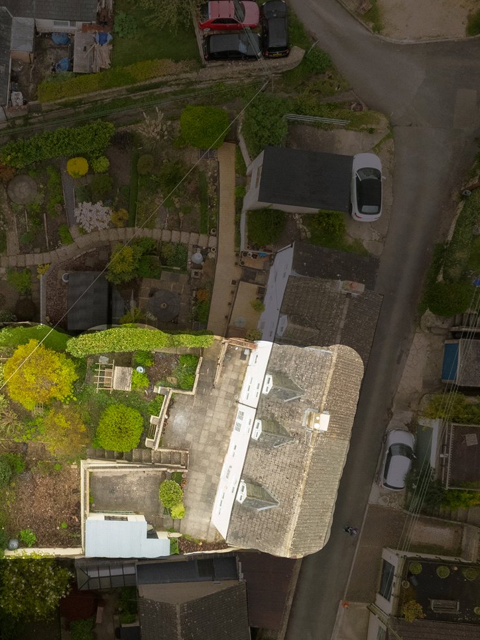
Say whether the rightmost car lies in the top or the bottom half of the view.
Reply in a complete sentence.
The rightmost car sits in the bottom half of the picture.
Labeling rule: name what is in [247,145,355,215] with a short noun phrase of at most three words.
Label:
building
